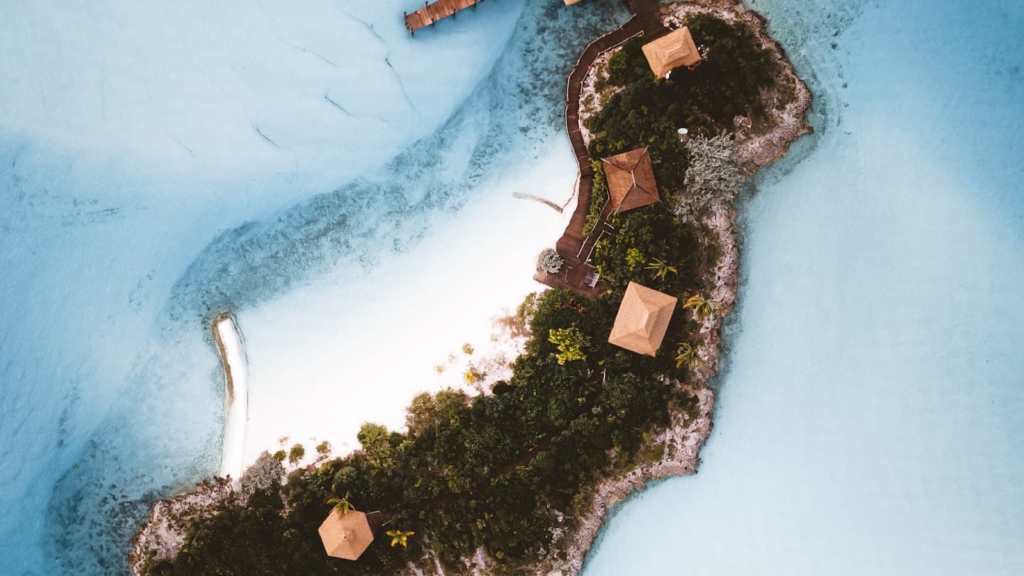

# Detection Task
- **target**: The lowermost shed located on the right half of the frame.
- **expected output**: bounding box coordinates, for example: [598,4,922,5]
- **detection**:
[608,281,677,358]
